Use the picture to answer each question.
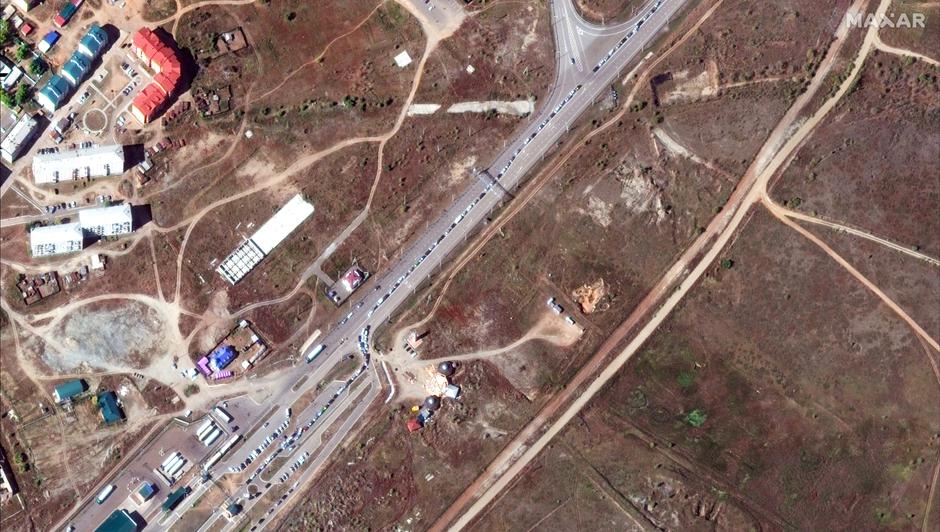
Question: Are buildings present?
Yes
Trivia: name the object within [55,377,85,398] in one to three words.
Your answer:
barn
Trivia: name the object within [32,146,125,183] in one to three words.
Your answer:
building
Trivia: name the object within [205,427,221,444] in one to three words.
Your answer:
vehicle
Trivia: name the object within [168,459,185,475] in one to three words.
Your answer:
vehicle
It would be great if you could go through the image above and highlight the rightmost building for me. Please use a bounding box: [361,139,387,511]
[650,72,673,108]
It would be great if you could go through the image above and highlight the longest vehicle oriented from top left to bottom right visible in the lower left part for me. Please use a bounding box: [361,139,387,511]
[214,405,232,423]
